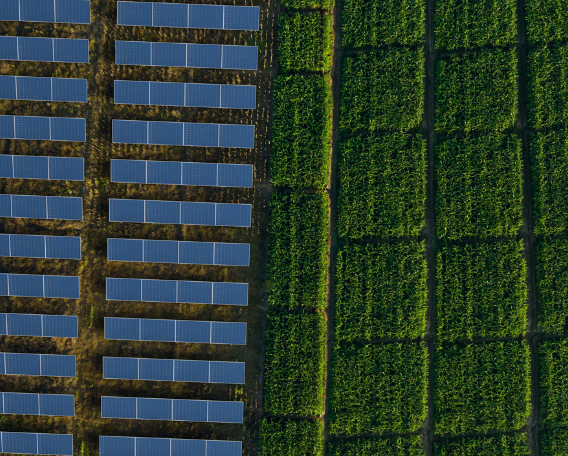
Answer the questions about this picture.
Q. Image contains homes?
No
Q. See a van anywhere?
No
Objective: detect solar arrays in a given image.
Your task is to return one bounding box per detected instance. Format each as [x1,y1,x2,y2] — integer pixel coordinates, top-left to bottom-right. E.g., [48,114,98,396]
[117,1,260,31]
[101,396,243,424]
[113,119,255,148]
[102,356,245,384]
[0,392,75,417]
[0,273,79,299]
[109,199,251,227]
[0,0,91,24]
[114,80,256,109]
[111,159,253,188]
[0,115,86,142]
[0,194,82,221]
[0,36,89,64]
[0,155,84,181]
[0,432,73,456]
[106,277,248,306]
[0,76,88,103]
[0,313,78,339]
[104,317,246,345]
[0,234,80,260]
[115,41,258,70]
[108,238,250,266]
[100,436,242,456]
[0,353,76,378]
